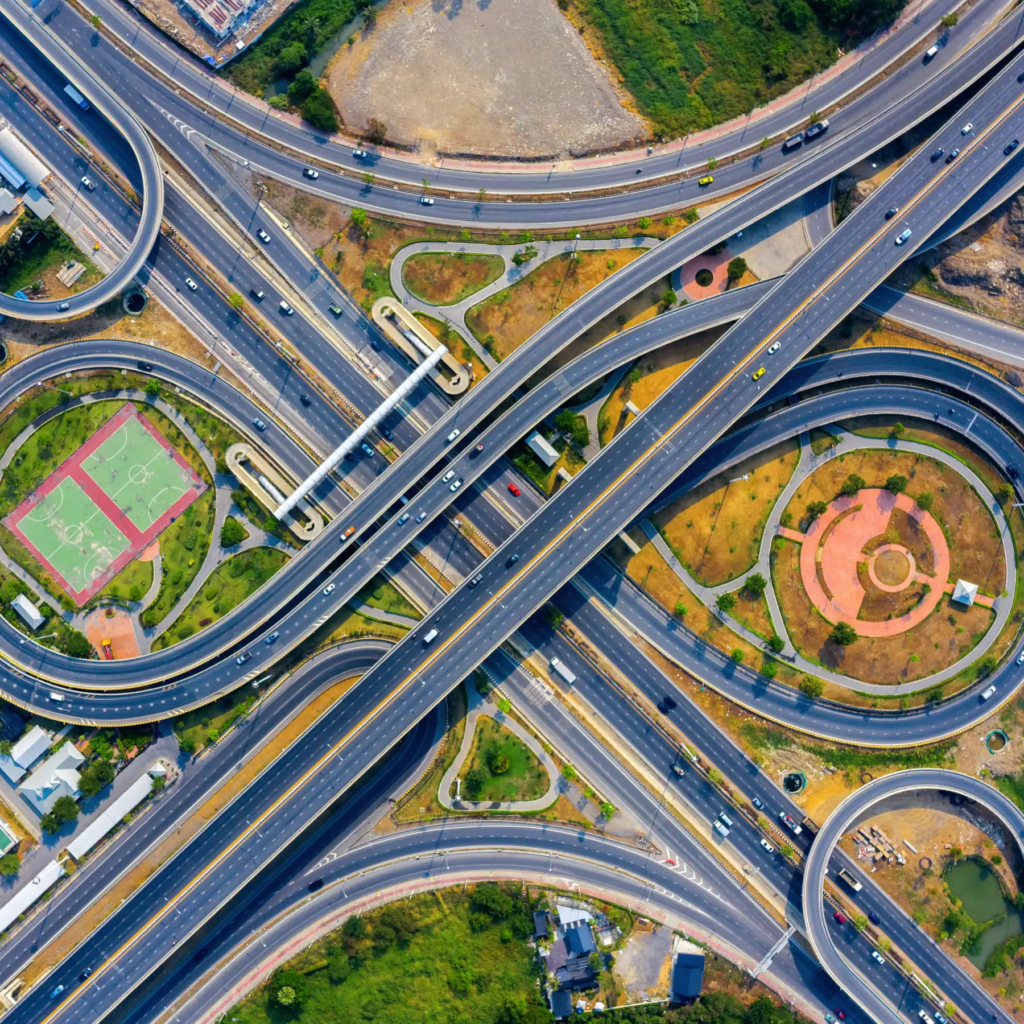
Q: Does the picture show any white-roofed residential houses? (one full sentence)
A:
Yes, looking at the shot, I can spot a white-roofed residential house.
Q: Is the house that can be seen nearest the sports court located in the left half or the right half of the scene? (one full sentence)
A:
You can find the house that can be seen nearest the sports court on the left side of the picture.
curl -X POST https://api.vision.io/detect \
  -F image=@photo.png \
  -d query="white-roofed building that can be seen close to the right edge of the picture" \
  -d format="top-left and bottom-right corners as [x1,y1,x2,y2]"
[948,579,978,606]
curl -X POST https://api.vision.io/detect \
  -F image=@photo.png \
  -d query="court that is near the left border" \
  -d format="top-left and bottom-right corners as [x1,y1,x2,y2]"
[1,403,208,606]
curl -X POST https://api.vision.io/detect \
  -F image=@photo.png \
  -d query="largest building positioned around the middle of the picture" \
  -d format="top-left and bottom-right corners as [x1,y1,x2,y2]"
[526,430,560,466]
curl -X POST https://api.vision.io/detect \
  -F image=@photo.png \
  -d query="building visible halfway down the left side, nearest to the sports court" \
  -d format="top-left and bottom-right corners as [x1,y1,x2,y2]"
[13,593,47,630]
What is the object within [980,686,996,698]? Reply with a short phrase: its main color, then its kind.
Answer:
white vehicle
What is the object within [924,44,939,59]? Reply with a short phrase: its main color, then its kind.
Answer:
white vehicle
